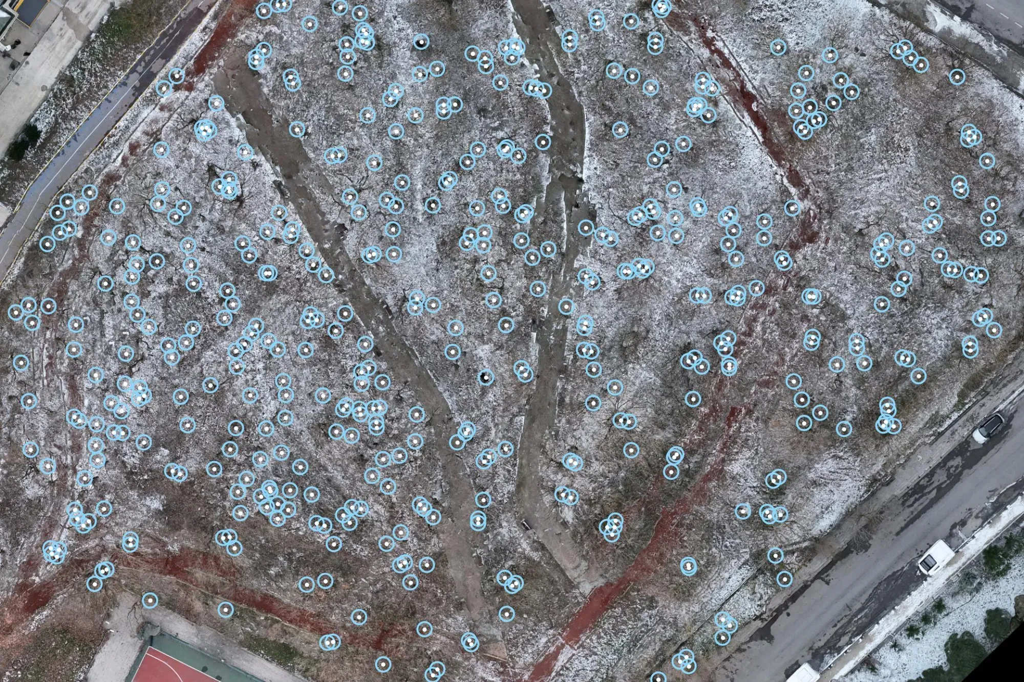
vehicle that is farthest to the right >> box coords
[972,412,1005,444]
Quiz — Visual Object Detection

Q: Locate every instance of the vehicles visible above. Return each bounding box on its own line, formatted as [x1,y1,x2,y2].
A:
[915,537,957,576]
[781,661,819,682]
[972,412,1005,444]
